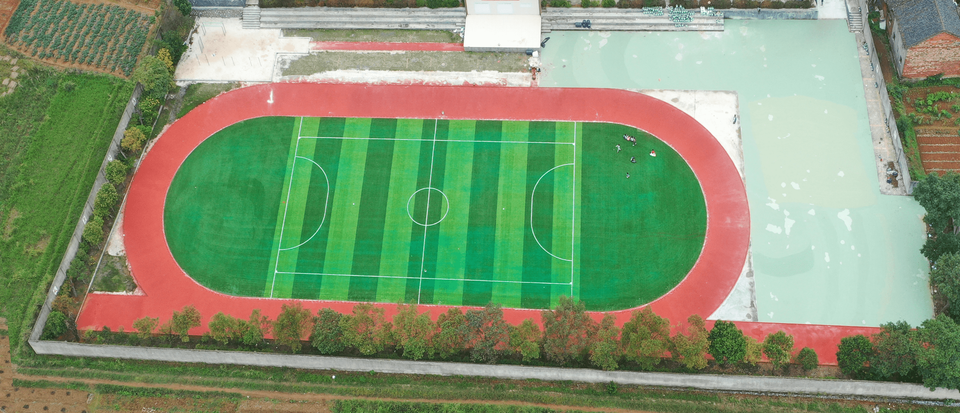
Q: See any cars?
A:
No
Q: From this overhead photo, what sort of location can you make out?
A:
sports ground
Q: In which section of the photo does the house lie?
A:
top right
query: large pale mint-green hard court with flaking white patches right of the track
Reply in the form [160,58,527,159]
[538,18,933,327]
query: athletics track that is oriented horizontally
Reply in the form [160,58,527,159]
[77,82,916,365]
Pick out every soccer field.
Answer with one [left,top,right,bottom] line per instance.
[164,116,707,312]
